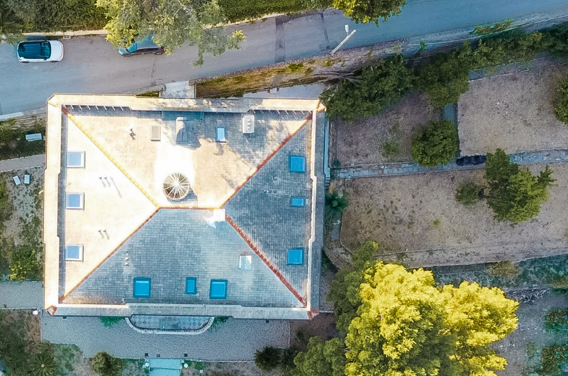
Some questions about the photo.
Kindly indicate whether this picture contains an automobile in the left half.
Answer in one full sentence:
Yes, an automobile is visible in the left half.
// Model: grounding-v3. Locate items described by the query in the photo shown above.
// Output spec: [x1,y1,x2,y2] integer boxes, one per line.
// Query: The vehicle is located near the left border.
[18,39,62,63]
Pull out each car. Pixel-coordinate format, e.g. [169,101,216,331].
[18,39,62,63]
[117,44,160,58]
